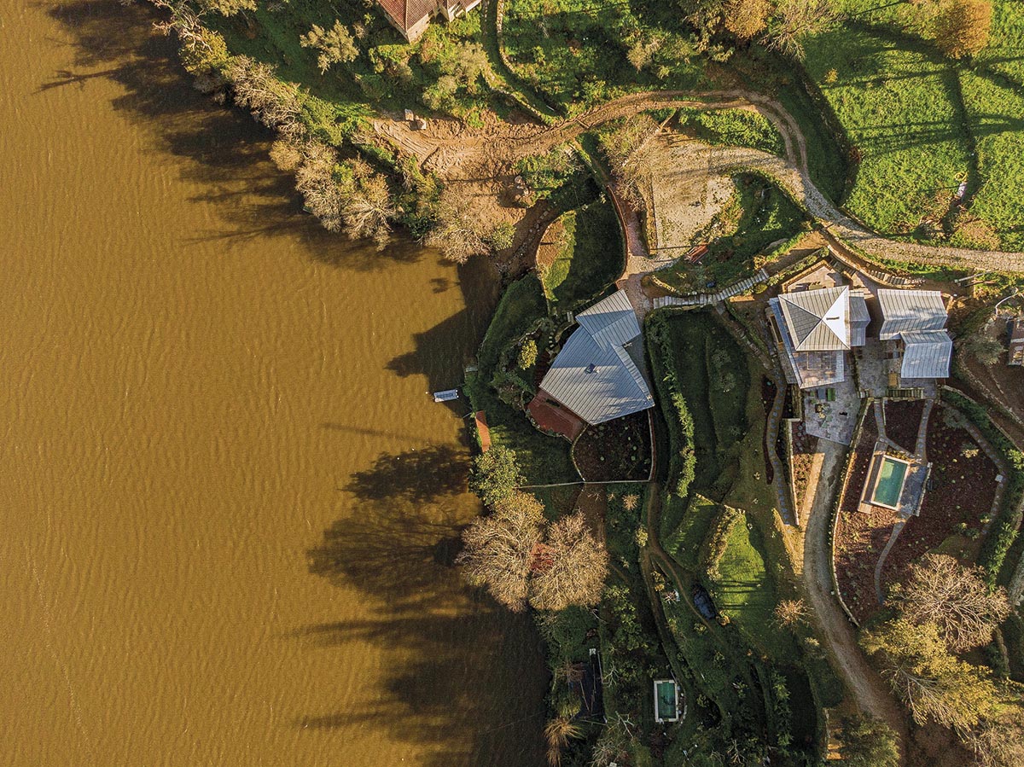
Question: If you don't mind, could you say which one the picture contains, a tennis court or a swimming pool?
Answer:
swimming pool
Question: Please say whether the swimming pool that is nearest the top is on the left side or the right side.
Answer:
right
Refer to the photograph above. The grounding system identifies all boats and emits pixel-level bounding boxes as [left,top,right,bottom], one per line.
[433,389,459,402]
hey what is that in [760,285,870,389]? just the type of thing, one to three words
house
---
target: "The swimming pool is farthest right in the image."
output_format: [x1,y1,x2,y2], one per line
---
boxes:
[856,443,910,513]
